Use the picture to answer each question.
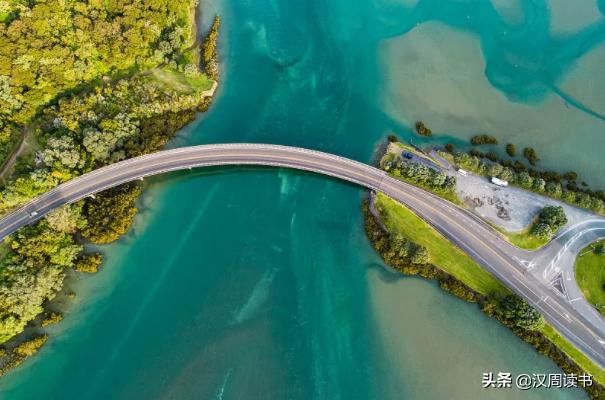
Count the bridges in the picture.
one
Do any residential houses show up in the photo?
No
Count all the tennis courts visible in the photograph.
0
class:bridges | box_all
[43,142,385,212]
